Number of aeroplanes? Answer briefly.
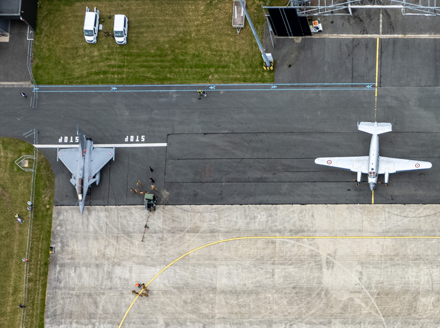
2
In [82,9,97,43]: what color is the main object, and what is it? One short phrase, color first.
white vehicle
